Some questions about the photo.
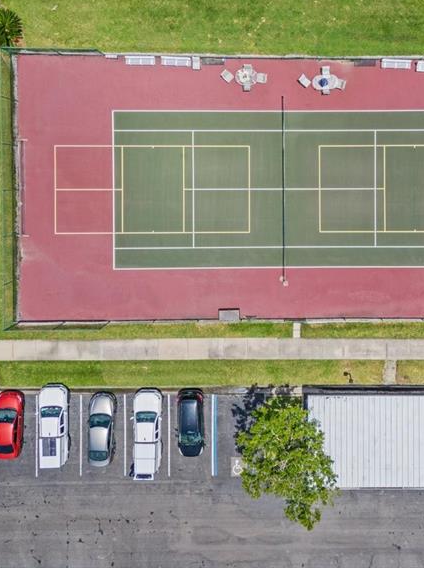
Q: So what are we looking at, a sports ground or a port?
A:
sports ground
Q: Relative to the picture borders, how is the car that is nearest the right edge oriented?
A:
up and down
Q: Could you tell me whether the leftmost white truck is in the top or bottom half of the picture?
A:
bottom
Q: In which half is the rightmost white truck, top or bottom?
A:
bottom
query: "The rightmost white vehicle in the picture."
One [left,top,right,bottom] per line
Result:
[128,388,165,479]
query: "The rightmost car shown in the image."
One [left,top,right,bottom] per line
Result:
[174,388,207,455]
